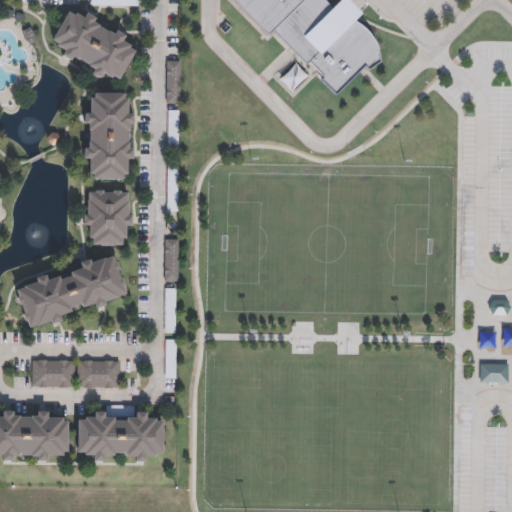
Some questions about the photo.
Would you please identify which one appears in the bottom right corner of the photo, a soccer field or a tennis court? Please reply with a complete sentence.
Visible in the bottom right corner of the photo is a soccer field.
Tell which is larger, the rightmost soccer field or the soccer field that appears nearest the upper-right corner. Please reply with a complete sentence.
The soccer field that appears nearest the upper-right corner is larger than the rightmost soccer field.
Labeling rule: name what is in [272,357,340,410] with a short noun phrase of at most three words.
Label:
soccer field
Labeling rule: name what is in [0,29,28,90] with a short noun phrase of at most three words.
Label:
swimming pool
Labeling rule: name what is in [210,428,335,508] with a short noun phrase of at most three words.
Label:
soccer field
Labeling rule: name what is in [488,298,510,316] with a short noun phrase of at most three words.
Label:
building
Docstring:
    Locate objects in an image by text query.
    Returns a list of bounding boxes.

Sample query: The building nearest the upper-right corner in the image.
[235,0,381,94]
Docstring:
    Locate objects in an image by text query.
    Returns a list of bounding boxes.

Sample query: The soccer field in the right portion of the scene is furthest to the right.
[344,358,444,508]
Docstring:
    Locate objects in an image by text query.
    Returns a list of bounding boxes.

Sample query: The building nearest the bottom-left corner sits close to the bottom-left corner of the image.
[0,410,70,461]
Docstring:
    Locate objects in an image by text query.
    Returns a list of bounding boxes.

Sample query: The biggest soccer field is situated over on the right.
[218,166,437,324]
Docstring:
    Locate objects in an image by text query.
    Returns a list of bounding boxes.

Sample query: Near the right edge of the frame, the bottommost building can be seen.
[480,362,508,384]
